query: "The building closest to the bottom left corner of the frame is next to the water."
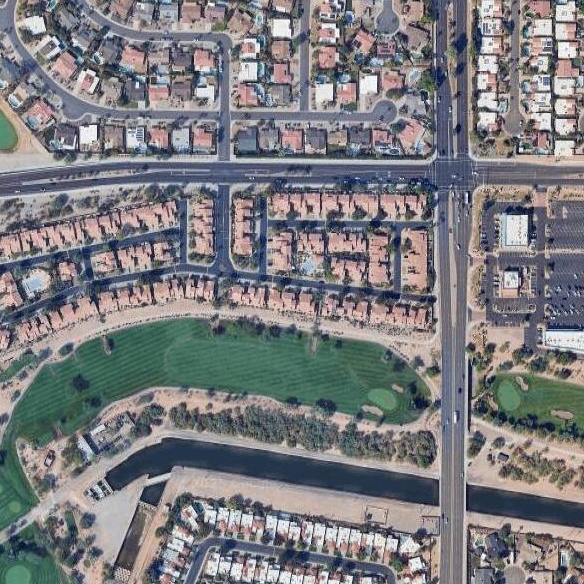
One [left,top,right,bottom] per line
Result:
[84,478,113,506]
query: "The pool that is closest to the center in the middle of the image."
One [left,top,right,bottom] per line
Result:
[299,259,314,274]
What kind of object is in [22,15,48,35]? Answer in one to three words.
house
